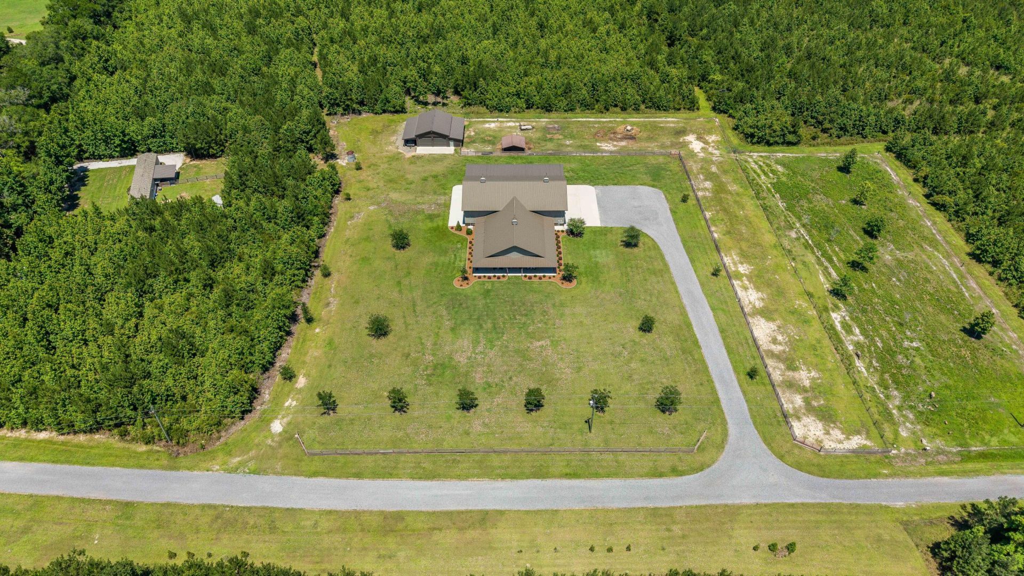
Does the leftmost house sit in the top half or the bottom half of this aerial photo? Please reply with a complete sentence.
Seen from above, the leftmost house lies in the top half of the view.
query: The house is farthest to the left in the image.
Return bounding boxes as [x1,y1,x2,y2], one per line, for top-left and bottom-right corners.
[128,154,181,204]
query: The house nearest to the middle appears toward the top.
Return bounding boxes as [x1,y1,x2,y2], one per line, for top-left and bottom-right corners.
[461,164,568,276]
